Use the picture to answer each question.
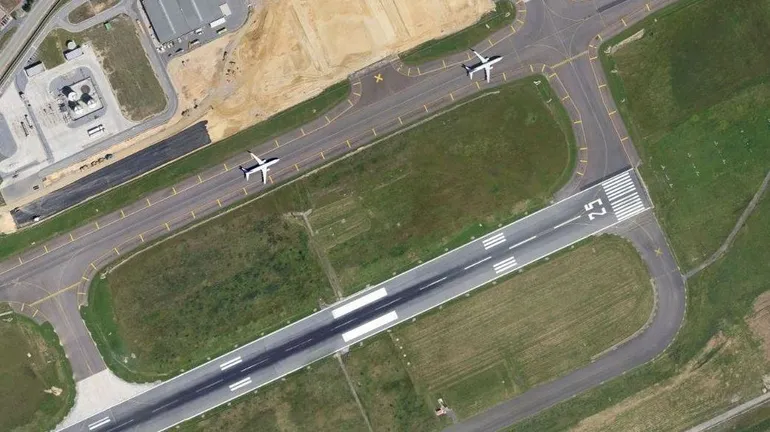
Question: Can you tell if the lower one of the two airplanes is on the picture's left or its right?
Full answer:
The lower one of the two airplanes is on the left side of the image.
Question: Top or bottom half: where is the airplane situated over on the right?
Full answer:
The airplane situated over on the right sits in the top half of the picture.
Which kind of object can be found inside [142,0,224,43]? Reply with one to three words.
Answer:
building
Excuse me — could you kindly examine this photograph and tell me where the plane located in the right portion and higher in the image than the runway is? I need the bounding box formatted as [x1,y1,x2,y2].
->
[466,50,504,82]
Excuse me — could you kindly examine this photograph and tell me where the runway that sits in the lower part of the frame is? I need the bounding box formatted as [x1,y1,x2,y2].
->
[53,166,653,432]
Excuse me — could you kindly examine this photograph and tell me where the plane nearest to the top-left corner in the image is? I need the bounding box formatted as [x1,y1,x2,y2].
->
[241,153,279,184]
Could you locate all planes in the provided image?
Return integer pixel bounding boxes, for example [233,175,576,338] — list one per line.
[466,50,504,82]
[241,153,279,184]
